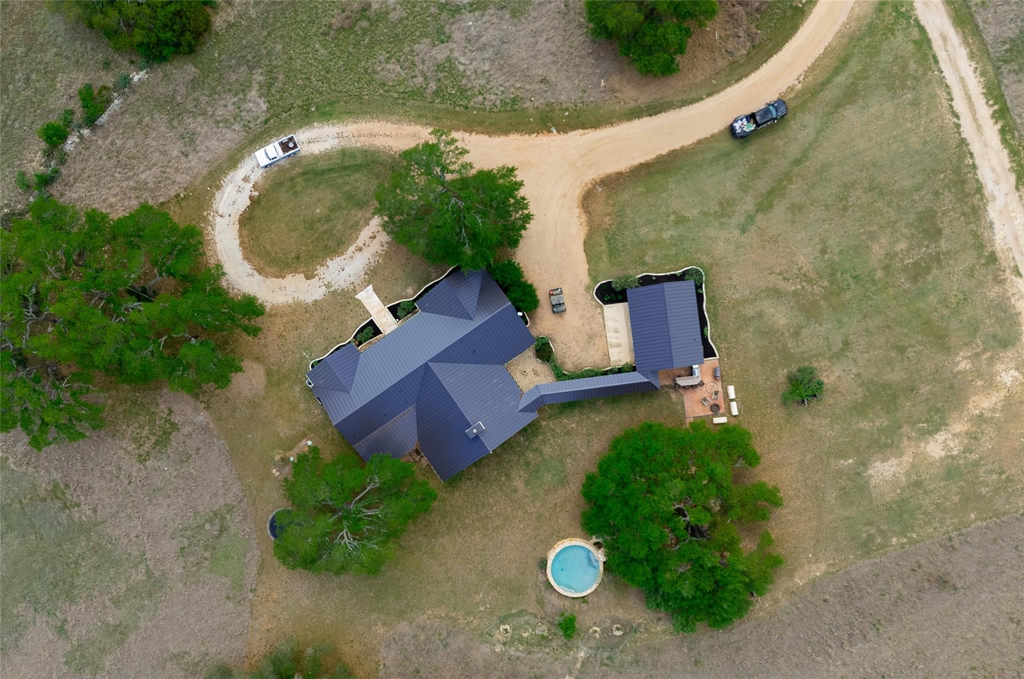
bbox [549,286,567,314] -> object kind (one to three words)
vehicle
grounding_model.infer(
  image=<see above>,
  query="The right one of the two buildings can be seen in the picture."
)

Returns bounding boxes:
[627,280,703,371]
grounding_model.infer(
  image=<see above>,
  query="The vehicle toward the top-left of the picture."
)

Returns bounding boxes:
[252,132,299,166]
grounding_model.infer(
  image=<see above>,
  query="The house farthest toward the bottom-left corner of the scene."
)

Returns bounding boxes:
[304,266,539,481]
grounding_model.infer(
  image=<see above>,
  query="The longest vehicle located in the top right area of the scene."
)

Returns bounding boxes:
[731,97,789,136]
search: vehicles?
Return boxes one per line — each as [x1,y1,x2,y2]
[252,132,299,166]
[549,286,567,314]
[731,97,789,136]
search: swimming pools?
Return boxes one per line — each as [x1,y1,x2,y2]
[546,536,604,596]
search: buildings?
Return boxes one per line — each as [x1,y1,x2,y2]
[304,266,539,481]
[627,280,703,371]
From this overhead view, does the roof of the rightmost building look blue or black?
blue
